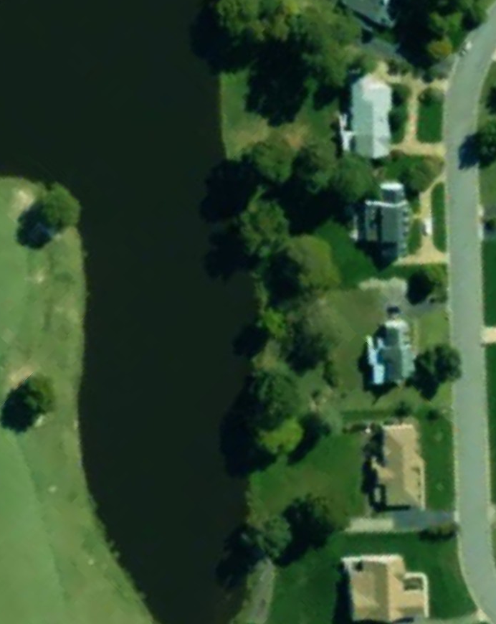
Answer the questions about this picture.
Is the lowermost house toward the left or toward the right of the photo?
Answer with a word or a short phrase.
right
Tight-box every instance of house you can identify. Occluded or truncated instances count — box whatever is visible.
[337,0,399,34]
[371,421,431,510]
[353,180,410,259]
[345,556,430,624]
[369,319,415,385]
[337,73,394,158]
